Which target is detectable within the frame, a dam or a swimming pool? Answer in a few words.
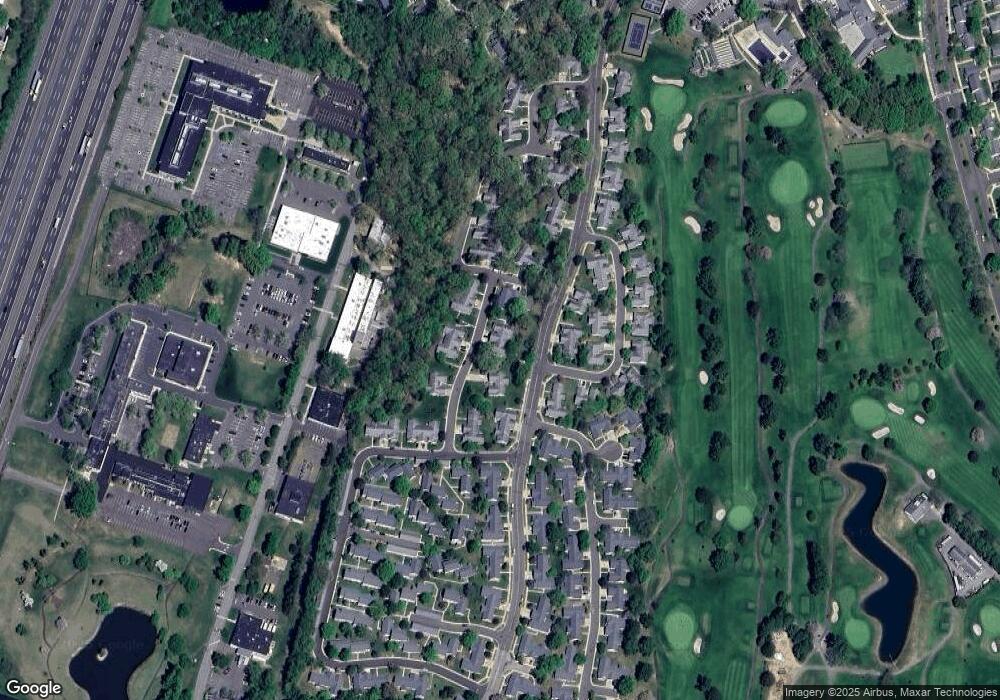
swimming pool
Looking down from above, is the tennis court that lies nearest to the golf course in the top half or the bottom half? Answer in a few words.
top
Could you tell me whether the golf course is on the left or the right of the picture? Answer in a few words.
right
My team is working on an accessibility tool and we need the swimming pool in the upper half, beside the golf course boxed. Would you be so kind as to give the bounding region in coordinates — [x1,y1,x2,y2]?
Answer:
[731,23,790,74]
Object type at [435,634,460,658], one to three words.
house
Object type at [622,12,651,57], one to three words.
tennis court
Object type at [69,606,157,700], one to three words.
pond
